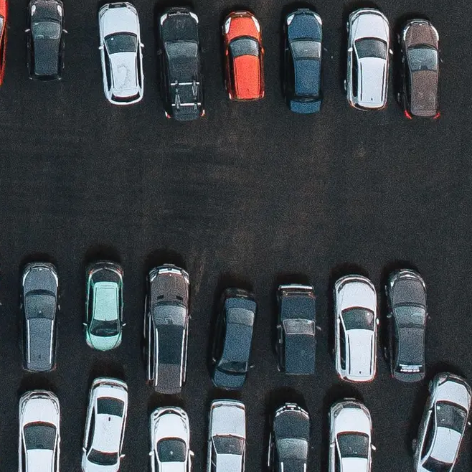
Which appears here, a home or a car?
car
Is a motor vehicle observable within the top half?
Yes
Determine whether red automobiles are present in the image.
Yes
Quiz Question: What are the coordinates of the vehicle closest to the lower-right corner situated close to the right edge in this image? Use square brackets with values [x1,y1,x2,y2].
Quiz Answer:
[413,369,470,472]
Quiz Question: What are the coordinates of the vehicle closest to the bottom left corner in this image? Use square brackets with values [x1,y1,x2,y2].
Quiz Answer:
[15,388,64,472]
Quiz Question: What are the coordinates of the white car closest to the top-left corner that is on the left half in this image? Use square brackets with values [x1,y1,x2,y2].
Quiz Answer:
[96,2,146,103]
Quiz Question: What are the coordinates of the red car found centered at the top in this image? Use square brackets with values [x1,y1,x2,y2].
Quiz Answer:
[221,11,268,100]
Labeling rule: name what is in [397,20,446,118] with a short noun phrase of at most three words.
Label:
car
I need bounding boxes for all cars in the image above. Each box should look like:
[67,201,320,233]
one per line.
[276,285,323,381]
[147,404,195,472]
[210,286,259,385]
[96,2,146,103]
[0,0,11,85]
[268,400,316,472]
[17,260,63,369]
[327,398,378,472]
[397,20,446,118]
[25,0,68,85]
[83,257,129,349]
[144,263,196,392]
[383,268,433,381]
[205,396,251,472]
[332,274,383,381]
[15,388,64,472]
[81,374,130,472]
[281,8,330,112]
[221,11,268,100]
[158,7,209,122]
[413,369,470,472]
[344,8,396,109]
